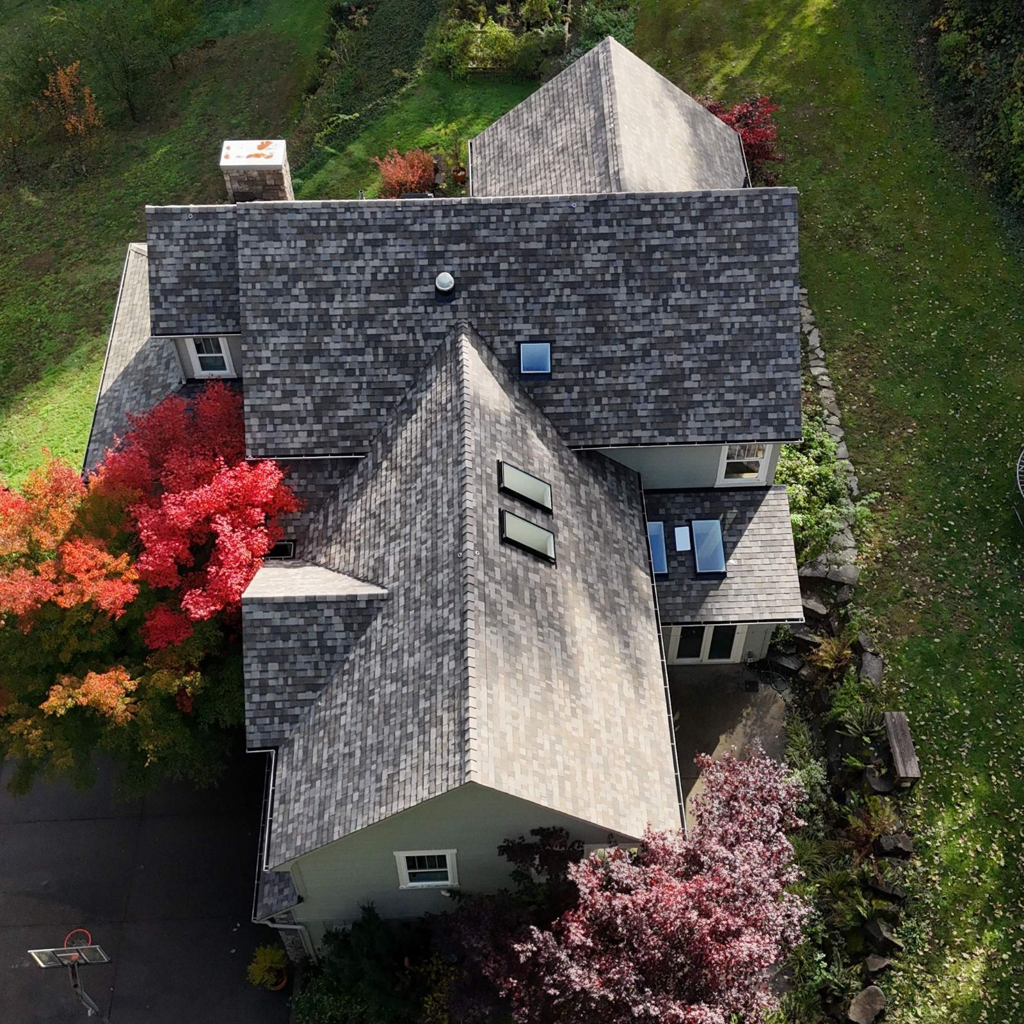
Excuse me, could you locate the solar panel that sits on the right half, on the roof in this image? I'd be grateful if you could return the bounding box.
[674,524,691,550]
